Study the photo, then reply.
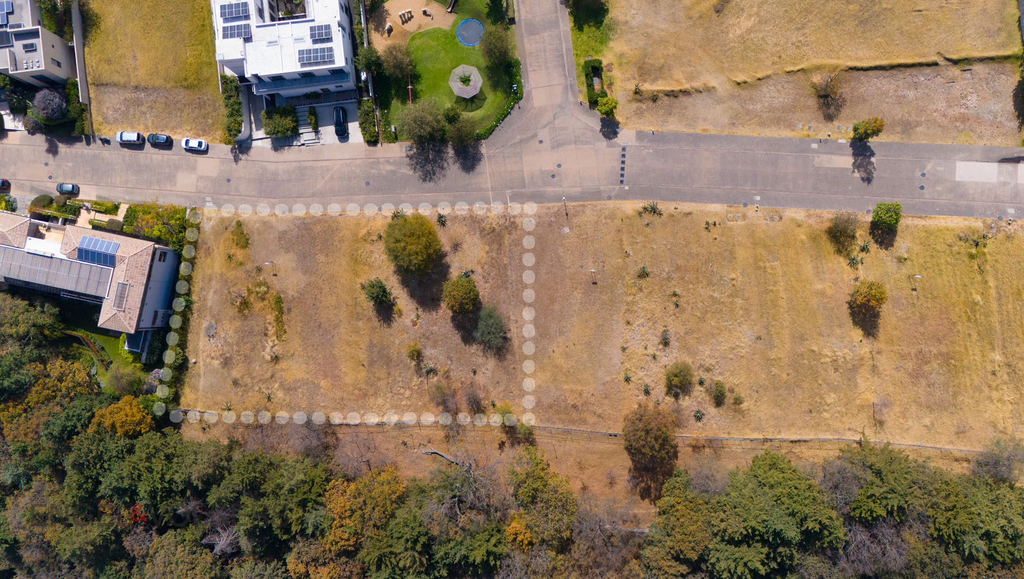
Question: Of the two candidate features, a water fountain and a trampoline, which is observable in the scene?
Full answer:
Looking from above, you can make out a trampoline.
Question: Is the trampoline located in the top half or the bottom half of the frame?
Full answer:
The trampoline sits in the top half of the picture.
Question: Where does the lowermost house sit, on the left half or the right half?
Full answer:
The lowermost house is on the left side of the image.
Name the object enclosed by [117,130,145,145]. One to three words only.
car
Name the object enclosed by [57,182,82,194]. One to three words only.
vehicle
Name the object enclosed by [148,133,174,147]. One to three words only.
car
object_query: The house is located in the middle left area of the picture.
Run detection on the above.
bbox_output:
[0,212,174,362]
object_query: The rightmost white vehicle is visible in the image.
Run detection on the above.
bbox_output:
[181,137,209,151]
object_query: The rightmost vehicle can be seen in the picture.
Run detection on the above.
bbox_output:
[334,107,348,136]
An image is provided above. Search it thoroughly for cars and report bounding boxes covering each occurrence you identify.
[0,179,13,190]
[148,133,174,147]
[181,137,209,151]
[57,182,82,194]
[117,130,145,145]
[334,107,348,136]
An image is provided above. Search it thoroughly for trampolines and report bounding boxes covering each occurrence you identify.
[456,18,484,46]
